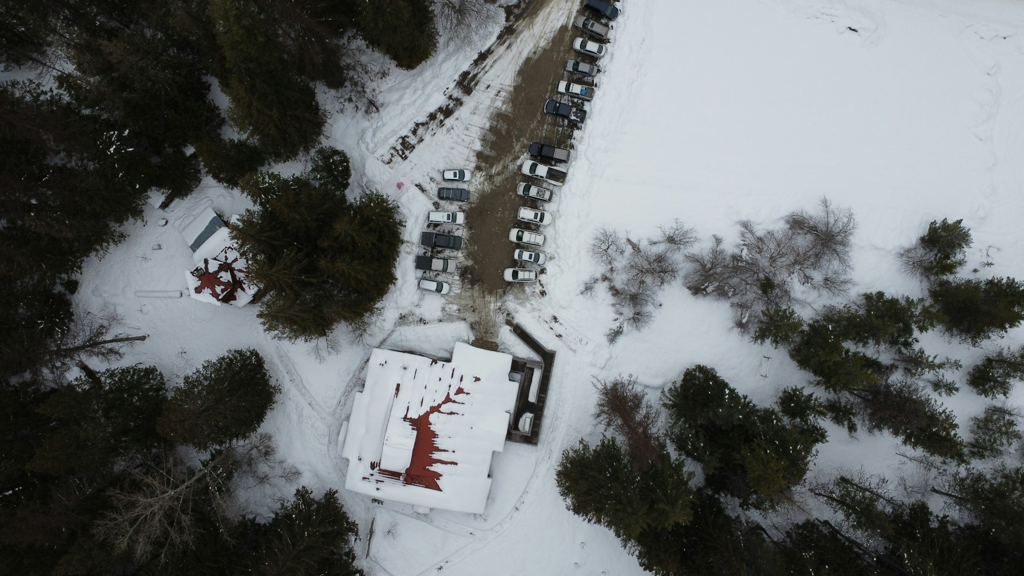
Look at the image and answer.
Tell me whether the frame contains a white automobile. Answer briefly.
Yes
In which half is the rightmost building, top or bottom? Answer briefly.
bottom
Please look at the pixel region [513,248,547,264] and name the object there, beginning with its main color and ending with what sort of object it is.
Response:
white car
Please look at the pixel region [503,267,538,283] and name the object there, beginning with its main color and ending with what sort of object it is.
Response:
white car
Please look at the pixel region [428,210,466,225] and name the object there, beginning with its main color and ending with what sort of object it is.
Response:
white vehicle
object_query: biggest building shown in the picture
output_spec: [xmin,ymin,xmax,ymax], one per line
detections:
[338,342,519,513]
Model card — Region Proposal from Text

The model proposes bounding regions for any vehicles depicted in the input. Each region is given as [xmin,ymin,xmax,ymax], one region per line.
[516,183,553,203]
[421,232,463,250]
[582,0,618,22]
[415,256,459,274]
[573,16,609,41]
[556,80,595,101]
[521,161,568,186]
[437,187,470,203]
[543,100,587,124]
[571,38,607,60]
[516,206,553,226]
[503,267,538,283]
[527,142,571,164]
[513,248,547,264]
[428,210,466,225]
[442,168,473,183]
[508,228,547,247]
[418,278,452,295]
